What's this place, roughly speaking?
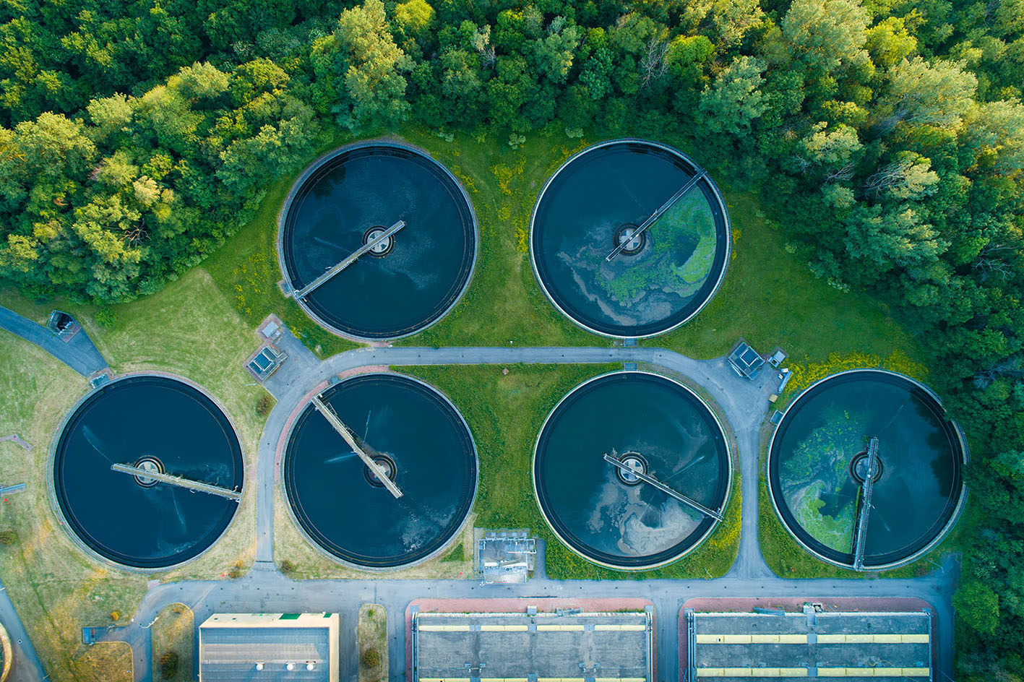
industrial area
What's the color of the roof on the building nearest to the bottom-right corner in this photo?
blue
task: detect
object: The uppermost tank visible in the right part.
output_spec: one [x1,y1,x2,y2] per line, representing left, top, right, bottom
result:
[529,136,733,340]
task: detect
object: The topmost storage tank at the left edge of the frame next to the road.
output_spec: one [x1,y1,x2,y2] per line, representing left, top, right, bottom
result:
[46,372,249,572]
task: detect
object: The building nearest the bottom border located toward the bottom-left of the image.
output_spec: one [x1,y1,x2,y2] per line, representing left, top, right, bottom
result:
[199,612,339,682]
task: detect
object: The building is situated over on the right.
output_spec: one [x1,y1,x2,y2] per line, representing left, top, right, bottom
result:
[725,342,769,381]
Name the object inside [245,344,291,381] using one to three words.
building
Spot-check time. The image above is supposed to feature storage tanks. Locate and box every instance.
[765,368,972,572]
[277,139,479,340]
[532,370,735,573]
[281,373,480,572]
[529,136,733,340]
[46,372,249,572]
